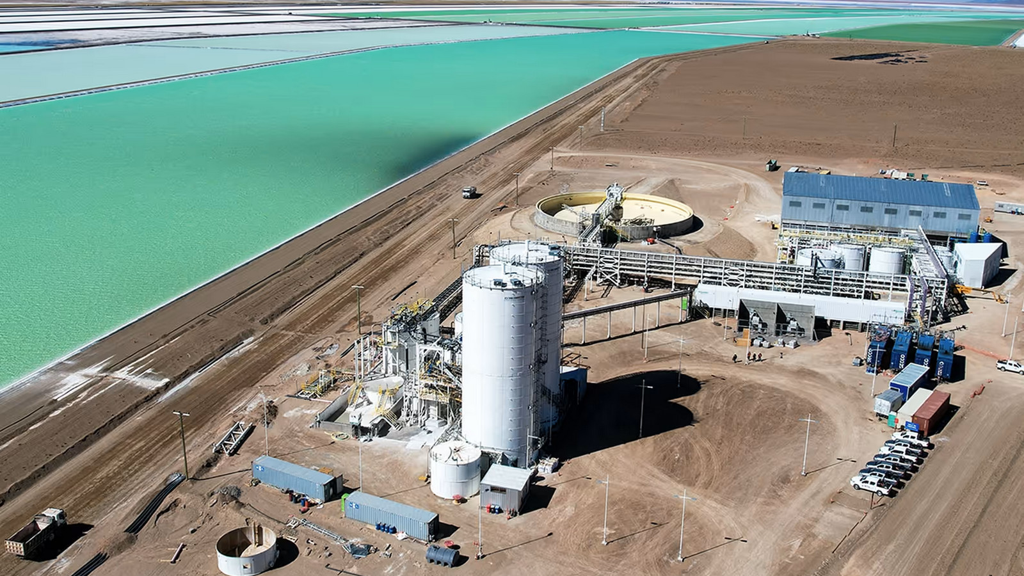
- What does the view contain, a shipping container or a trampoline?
shipping container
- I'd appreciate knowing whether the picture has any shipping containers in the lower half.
Yes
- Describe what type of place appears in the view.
industrial area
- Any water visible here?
Yes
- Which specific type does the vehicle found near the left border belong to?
truck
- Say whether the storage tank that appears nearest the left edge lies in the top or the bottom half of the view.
bottom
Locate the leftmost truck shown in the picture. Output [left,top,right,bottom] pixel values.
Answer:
[4,504,76,559]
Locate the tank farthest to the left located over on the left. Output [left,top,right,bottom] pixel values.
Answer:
[217,516,276,575]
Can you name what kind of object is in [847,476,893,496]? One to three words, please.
vehicle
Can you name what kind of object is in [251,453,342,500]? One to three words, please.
shipping container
